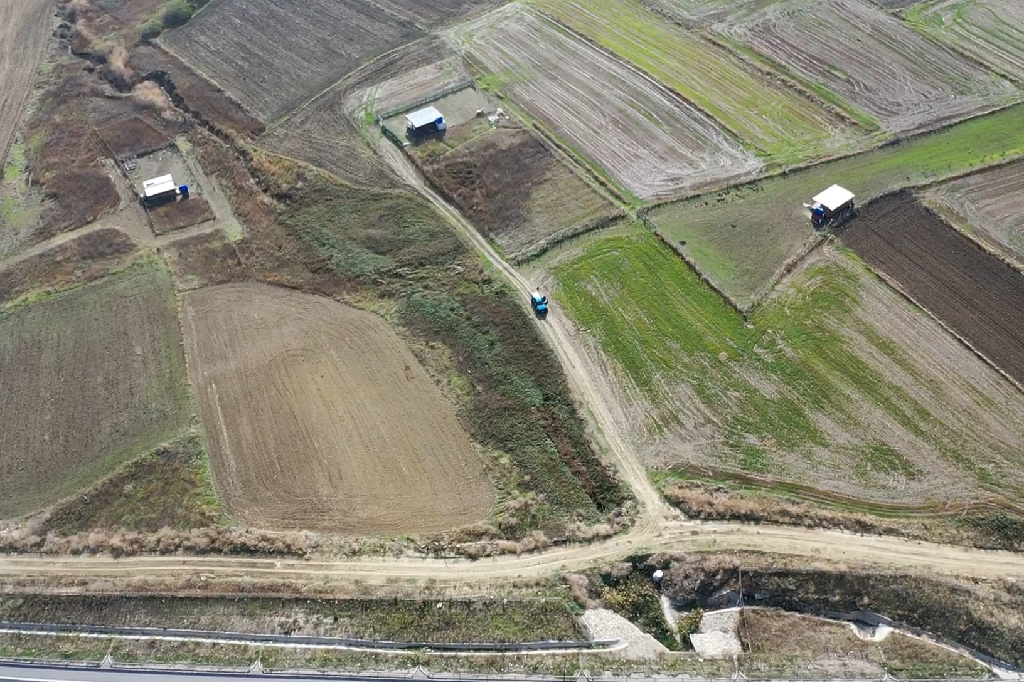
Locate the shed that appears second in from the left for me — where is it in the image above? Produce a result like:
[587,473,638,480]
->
[406,105,443,137]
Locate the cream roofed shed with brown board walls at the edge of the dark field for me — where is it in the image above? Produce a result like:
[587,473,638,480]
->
[810,184,855,222]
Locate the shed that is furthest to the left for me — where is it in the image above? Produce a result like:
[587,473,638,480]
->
[143,174,177,205]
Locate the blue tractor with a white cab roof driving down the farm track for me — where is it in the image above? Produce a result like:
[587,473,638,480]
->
[530,287,550,317]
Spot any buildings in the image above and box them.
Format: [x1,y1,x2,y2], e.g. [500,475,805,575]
[810,184,855,222]
[143,174,177,205]
[406,105,443,137]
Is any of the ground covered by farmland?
Yes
